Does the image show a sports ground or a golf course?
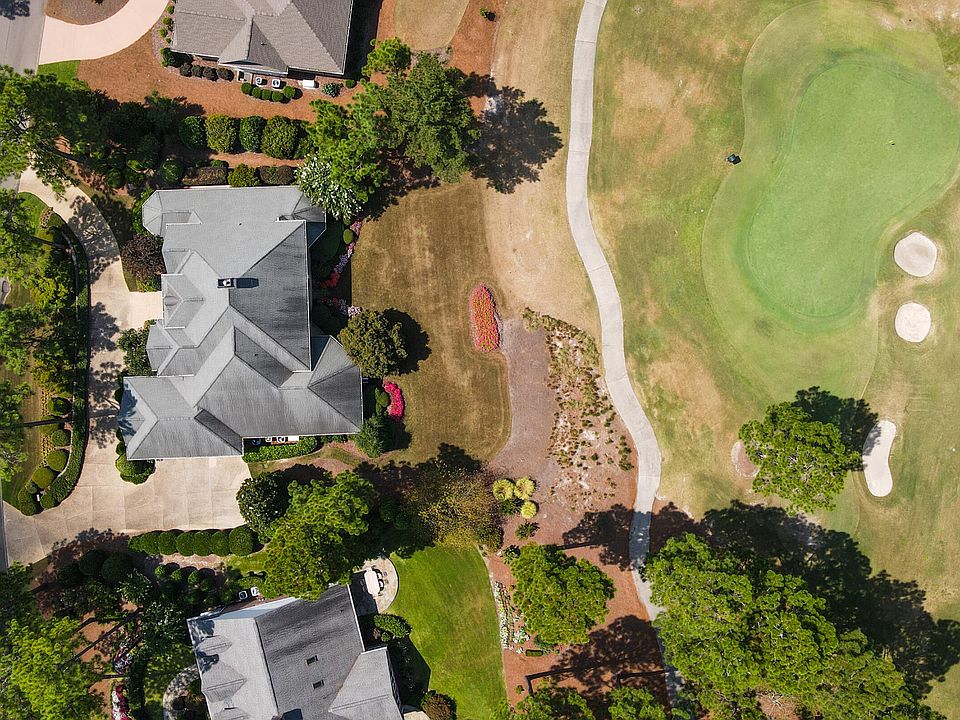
golf course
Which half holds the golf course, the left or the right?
right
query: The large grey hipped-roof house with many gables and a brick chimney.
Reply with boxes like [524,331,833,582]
[117,186,362,461]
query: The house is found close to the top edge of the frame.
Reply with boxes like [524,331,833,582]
[171,0,355,82]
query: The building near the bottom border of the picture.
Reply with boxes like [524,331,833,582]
[187,579,406,720]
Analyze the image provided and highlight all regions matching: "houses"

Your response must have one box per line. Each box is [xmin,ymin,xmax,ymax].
[187,579,406,720]
[171,0,355,82]
[117,186,362,461]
